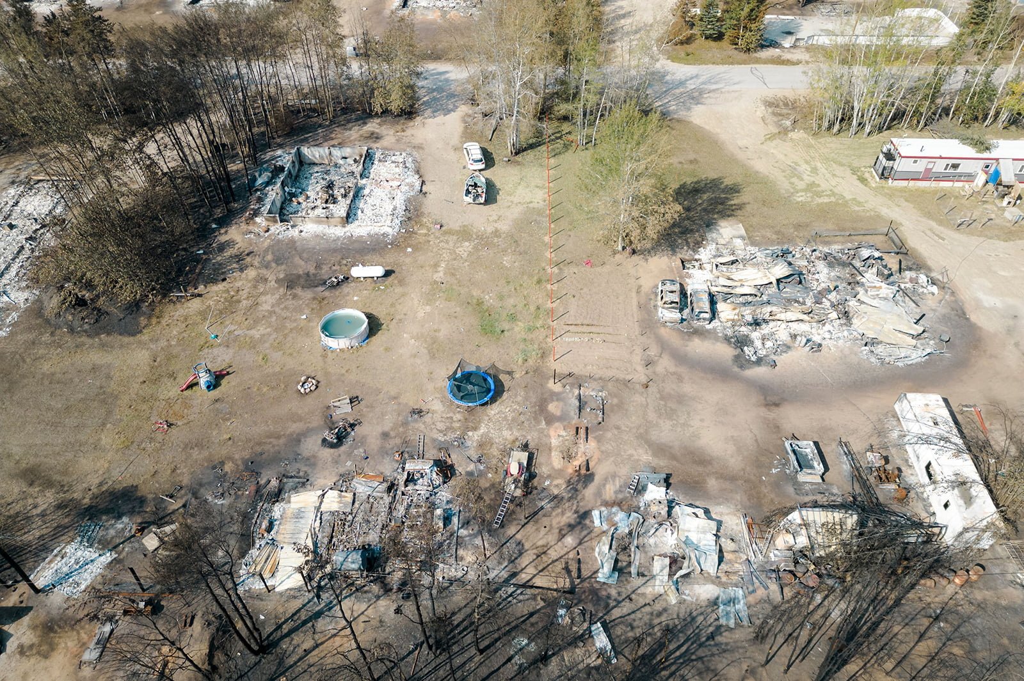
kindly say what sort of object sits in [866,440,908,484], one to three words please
work vehicle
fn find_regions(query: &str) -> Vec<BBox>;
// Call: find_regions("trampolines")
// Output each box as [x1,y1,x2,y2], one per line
[446,358,514,411]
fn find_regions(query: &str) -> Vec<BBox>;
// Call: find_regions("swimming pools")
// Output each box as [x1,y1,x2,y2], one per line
[318,308,371,350]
